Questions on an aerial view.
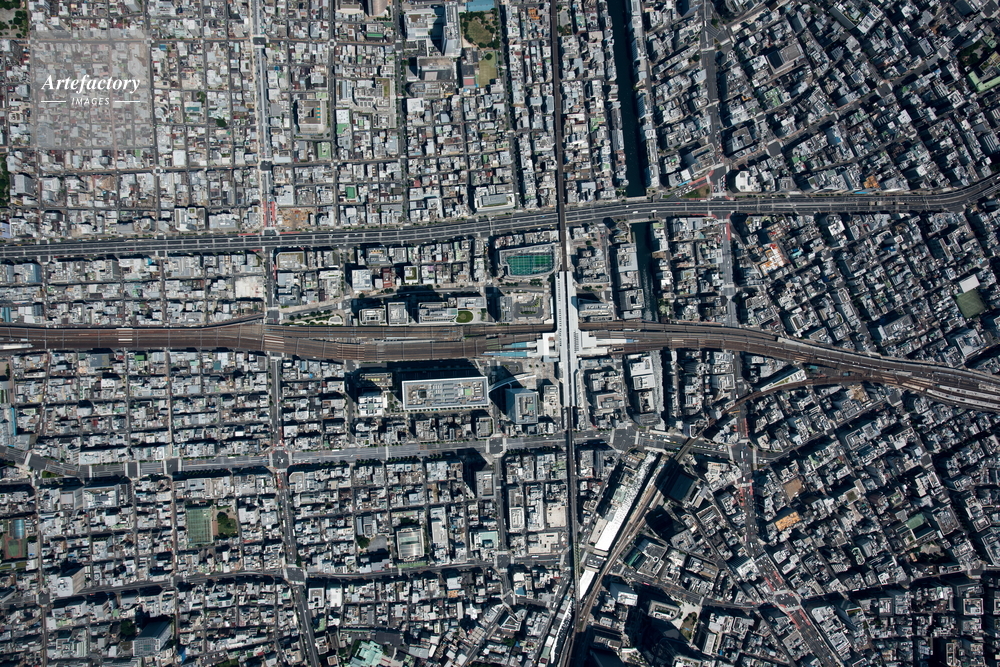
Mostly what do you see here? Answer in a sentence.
The largest share of the image is taken up by buildings.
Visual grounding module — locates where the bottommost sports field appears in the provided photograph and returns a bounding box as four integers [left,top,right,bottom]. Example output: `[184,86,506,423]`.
[187,505,215,545]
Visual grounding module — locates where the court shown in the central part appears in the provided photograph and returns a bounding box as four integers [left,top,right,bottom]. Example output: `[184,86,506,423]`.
[508,254,553,274]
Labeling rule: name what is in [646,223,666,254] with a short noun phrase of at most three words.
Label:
building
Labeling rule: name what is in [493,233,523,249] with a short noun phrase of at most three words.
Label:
building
